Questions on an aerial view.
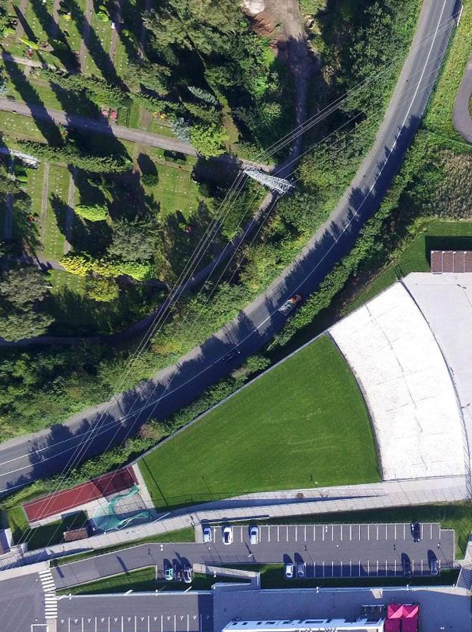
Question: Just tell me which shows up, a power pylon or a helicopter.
power pylon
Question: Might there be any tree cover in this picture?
Yes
